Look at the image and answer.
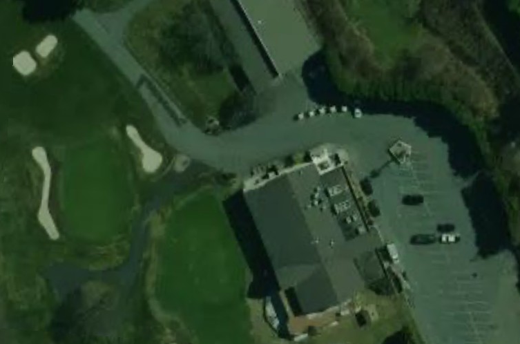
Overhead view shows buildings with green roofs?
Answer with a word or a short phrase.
Yes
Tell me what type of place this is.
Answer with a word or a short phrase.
golf course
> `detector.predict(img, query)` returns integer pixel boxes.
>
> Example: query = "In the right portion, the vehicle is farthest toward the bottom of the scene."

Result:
[386,243,400,265]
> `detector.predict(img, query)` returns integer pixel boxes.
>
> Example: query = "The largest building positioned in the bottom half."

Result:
[243,142,403,341]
